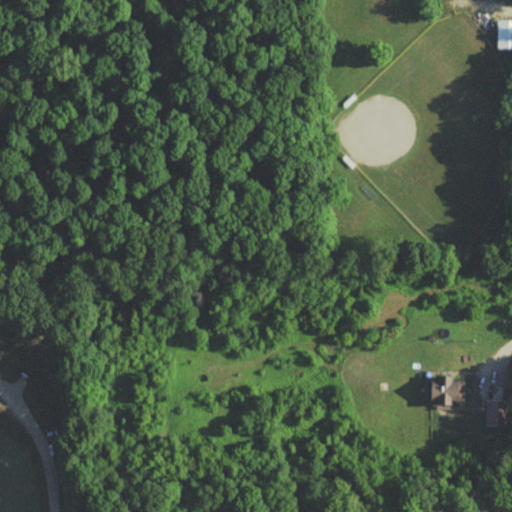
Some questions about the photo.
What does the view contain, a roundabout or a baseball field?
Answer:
baseball field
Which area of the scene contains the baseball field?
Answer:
top right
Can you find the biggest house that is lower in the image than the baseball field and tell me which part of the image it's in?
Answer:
bottom right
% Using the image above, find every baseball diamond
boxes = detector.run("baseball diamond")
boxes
[338,17,506,249]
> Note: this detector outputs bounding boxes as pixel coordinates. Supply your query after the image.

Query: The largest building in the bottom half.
[432,376,466,408]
